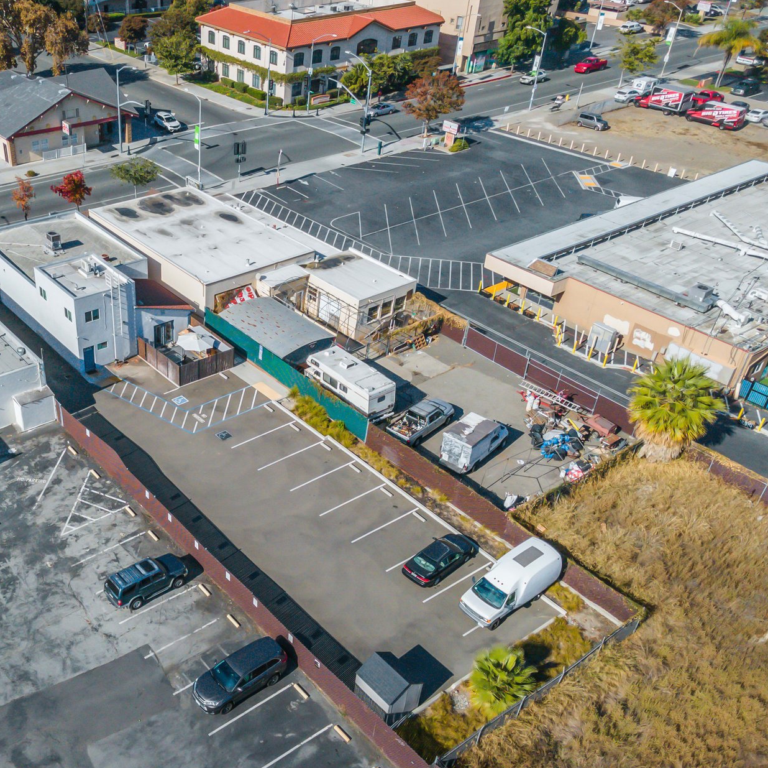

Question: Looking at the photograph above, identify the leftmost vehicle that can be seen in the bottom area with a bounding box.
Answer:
[103,550,195,612]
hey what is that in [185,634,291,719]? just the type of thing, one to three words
car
